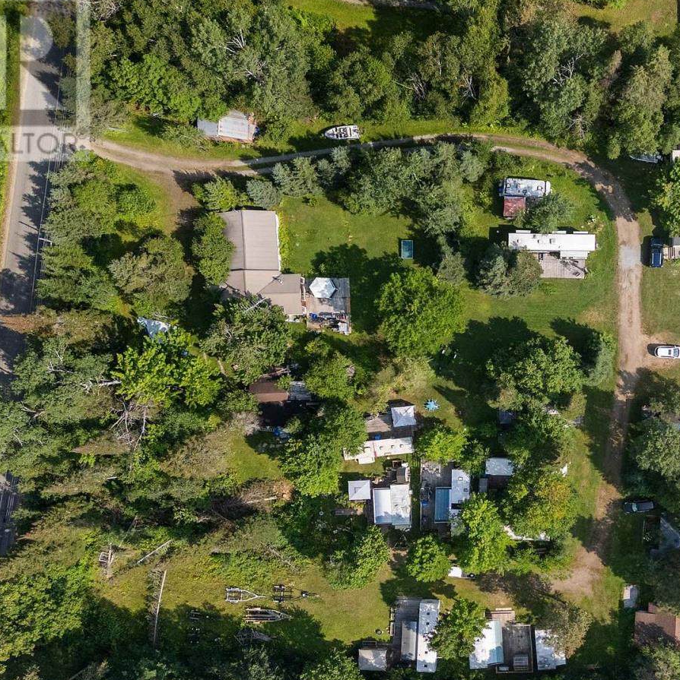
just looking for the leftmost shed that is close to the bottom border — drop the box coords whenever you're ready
[358,647,386,670]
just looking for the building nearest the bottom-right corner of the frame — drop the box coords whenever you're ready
[635,602,680,644]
